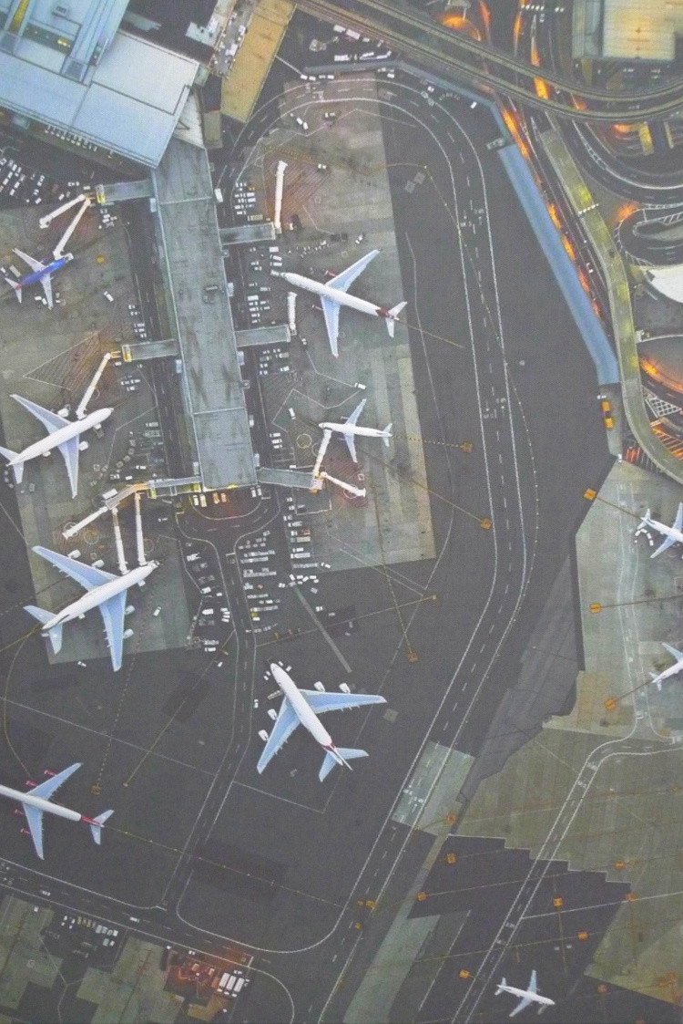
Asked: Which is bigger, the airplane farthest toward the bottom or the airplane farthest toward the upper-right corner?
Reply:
the airplane farthest toward the upper-right corner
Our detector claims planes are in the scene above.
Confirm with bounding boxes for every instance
[280,248,409,360]
[491,969,555,1017]
[0,764,115,863]
[7,249,68,312]
[0,394,113,500]
[647,643,683,694]
[23,545,158,677]
[262,663,385,786]
[319,399,397,462]
[635,502,683,559]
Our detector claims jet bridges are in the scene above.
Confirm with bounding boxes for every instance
[52,197,93,261]
[73,350,112,421]
[35,191,89,230]
[271,158,288,232]
[58,503,111,541]
[282,288,297,333]
[132,492,148,567]
[109,506,130,576]
[311,425,332,474]
[320,470,370,497]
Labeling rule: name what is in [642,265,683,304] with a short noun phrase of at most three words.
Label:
building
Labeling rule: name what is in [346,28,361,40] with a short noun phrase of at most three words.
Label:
vehicle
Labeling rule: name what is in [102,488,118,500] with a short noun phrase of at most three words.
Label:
vehicle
